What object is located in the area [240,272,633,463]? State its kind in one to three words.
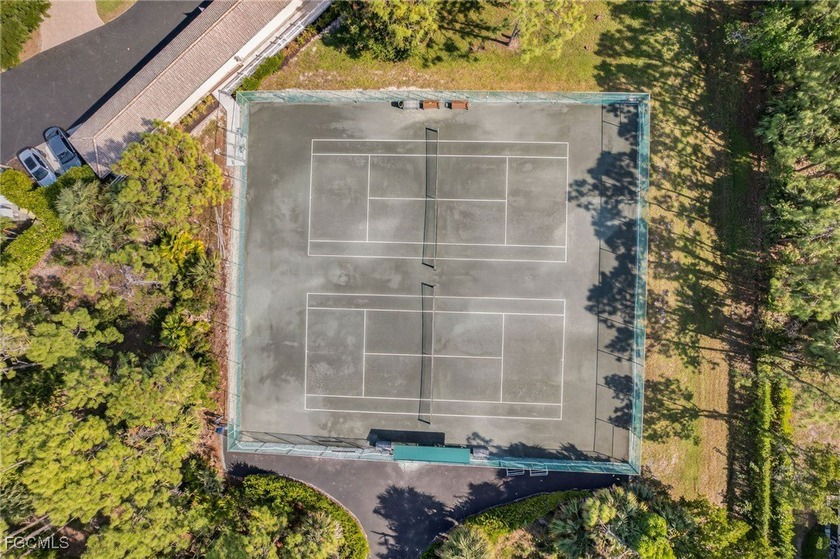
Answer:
tennis court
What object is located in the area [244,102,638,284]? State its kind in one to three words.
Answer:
tennis court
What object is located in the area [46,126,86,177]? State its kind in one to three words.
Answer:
car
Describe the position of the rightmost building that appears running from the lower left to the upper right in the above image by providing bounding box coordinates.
[68,0,308,177]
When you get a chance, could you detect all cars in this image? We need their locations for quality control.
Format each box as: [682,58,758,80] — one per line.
[46,126,86,177]
[19,142,60,188]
